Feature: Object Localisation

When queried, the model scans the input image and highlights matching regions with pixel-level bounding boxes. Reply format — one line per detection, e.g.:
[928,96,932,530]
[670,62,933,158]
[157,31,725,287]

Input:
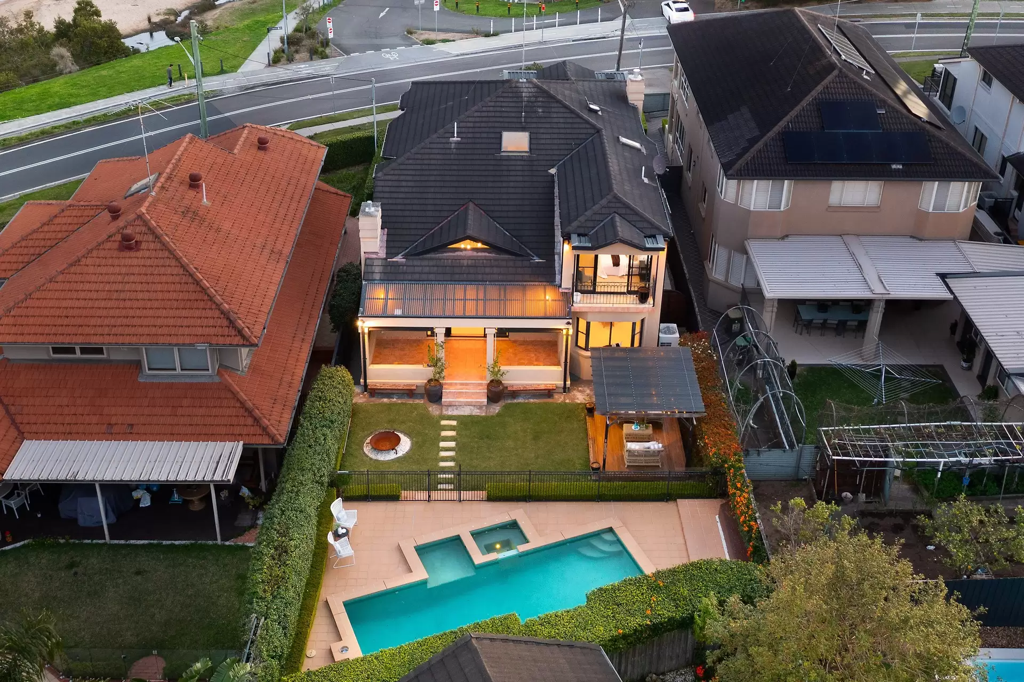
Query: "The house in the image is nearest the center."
[357,57,674,404]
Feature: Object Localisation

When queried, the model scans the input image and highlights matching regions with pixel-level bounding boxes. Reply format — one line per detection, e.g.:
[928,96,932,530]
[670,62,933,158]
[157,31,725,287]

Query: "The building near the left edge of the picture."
[0,123,353,542]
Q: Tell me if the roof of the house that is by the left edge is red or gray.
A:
red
